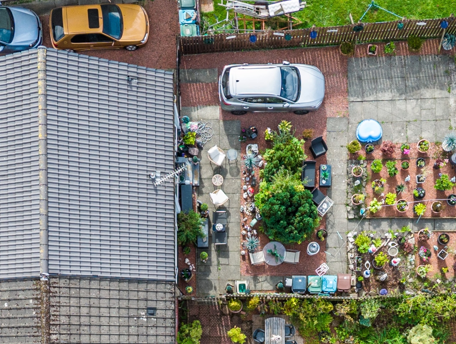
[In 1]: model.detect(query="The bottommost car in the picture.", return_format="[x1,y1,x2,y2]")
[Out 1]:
[218,56,326,115]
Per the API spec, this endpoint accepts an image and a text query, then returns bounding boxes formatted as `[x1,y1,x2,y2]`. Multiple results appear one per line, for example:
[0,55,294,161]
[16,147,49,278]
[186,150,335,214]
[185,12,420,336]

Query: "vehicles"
[0,0,44,56]
[50,0,150,52]
[218,56,326,115]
